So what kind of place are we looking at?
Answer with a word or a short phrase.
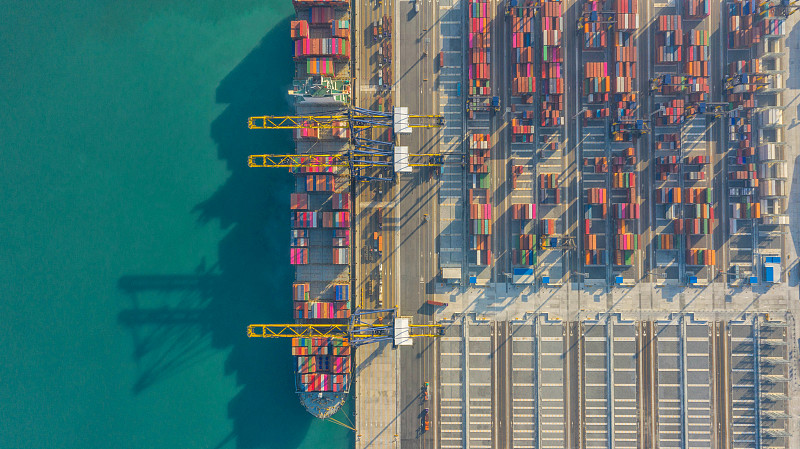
port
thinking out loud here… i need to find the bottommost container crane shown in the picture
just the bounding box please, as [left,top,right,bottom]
[247,305,445,347]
